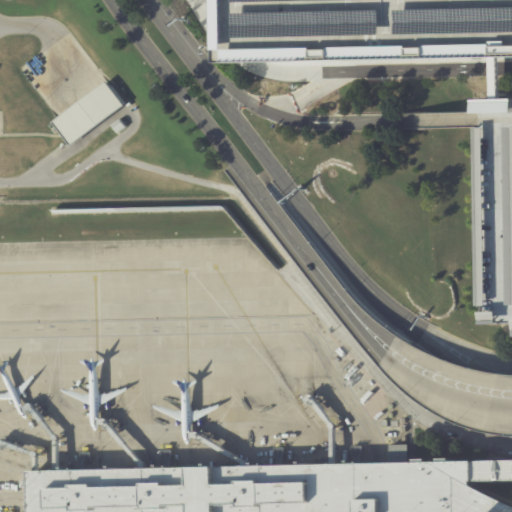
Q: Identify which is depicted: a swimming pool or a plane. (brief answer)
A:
plane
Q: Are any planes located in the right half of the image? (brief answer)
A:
No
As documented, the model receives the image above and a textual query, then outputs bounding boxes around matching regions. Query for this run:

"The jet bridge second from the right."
[188,430,247,466]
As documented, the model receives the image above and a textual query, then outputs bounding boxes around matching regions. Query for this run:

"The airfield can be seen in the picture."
[0,238,404,512]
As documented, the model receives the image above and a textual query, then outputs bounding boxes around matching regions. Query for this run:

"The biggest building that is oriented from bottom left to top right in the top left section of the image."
[51,79,126,144]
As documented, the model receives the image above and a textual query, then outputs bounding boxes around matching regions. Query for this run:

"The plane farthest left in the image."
[0,356,38,419]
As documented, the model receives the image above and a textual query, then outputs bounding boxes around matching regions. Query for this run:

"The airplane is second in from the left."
[58,358,126,431]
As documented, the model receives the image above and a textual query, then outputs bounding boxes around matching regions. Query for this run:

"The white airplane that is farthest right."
[150,378,218,444]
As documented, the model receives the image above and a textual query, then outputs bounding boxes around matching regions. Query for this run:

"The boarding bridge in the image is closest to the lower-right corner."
[302,392,338,464]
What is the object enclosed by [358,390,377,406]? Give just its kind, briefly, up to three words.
vehicle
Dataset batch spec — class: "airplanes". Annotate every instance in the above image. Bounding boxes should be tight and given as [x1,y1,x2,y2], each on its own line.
[150,378,218,444]
[0,356,38,419]
[58,358,126,431]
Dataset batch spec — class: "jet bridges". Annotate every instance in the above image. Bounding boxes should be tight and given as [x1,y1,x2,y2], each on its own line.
[18,400,64,470]
[302,392,338,464]
[188,430,247,466]
[0,434,43,471]
[94,416,148,468]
